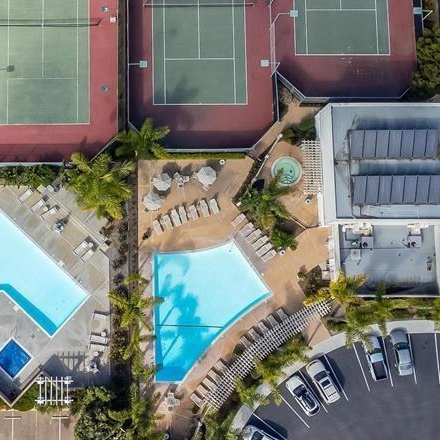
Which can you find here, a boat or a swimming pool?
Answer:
swimming pool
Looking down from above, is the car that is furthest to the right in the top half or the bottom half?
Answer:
bottom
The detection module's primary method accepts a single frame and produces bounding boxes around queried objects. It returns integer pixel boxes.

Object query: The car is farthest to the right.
[389,330,414,377]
